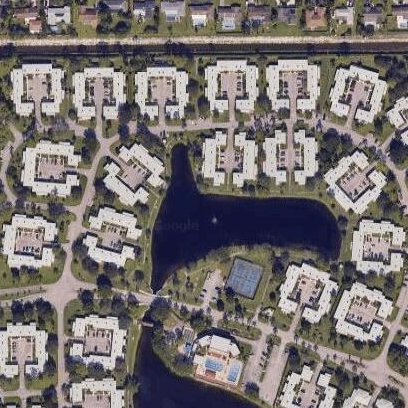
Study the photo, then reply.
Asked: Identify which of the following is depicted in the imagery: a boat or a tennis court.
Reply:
tennis court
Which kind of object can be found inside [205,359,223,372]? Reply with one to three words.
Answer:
swimming pool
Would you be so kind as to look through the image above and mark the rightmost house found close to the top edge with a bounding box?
[392,6,408,28]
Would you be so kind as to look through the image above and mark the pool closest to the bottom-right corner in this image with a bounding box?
[227,361,240,382]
